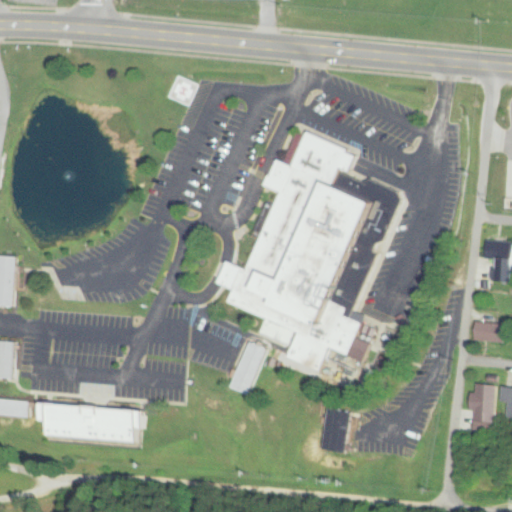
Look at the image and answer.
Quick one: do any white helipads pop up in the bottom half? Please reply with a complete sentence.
No, I see no white helipad in the bottom half.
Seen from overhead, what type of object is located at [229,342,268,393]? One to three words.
building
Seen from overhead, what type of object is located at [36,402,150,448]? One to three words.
building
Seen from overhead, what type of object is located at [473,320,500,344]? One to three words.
house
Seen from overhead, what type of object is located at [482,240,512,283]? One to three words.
house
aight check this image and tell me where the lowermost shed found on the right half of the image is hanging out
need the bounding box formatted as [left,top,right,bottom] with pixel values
[321,409,350,453]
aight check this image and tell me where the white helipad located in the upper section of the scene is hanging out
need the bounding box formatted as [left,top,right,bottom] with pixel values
[168,75,200,108]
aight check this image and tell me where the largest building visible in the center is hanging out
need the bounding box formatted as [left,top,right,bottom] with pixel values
[215,131,400,378]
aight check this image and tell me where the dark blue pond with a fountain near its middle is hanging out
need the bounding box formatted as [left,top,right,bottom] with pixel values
[14,98,127,245]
